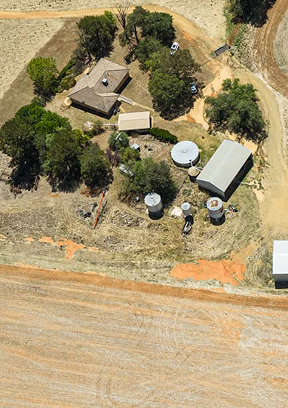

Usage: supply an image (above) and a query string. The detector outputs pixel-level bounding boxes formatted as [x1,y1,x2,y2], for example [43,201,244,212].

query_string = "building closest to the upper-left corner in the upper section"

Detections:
[67,59,129,117]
